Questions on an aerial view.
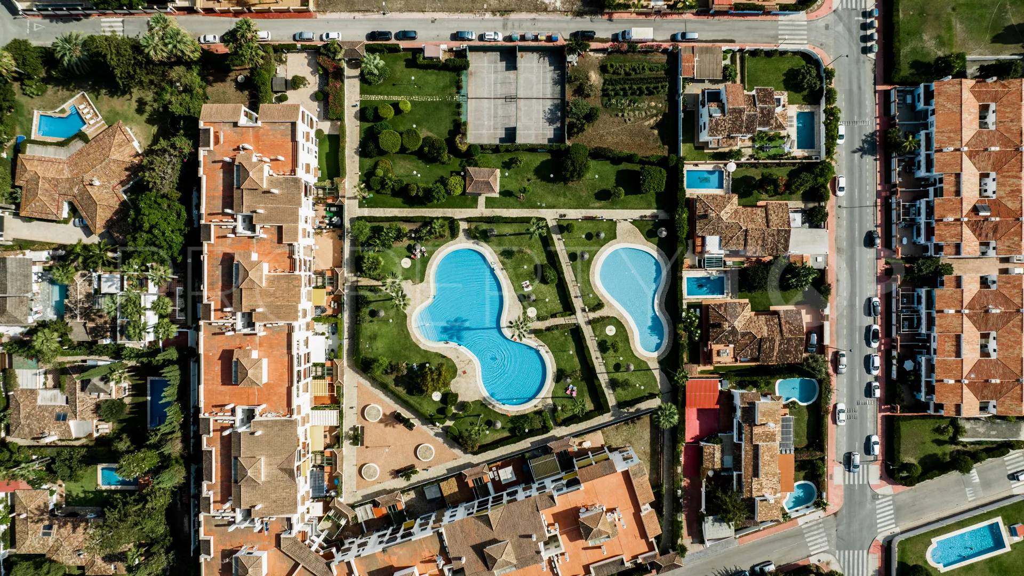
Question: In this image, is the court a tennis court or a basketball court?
tennis court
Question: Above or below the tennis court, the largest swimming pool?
below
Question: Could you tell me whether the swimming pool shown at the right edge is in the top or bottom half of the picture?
bottom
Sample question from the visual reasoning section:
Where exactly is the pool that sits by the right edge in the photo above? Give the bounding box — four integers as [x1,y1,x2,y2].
[925,516,1011,573]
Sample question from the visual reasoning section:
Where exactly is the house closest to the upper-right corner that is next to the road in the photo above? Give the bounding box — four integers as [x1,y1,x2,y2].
[909,79,1024,257]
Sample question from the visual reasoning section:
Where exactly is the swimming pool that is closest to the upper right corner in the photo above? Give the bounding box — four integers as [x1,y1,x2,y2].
[795,110,817,150]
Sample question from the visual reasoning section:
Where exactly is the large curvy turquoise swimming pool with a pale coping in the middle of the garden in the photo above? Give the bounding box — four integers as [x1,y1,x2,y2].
[413,244,551,410]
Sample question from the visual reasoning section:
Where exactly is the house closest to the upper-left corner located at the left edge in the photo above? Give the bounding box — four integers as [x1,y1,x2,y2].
[16,120,145,238]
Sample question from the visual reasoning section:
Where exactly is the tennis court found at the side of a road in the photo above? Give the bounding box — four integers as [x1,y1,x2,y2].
[469,51,565,144]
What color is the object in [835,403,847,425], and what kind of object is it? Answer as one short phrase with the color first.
white vehicle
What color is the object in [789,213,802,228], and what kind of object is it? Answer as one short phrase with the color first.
white gazebo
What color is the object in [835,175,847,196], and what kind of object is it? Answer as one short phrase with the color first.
white vehicle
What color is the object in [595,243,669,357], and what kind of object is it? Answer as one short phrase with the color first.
blue swimming pool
